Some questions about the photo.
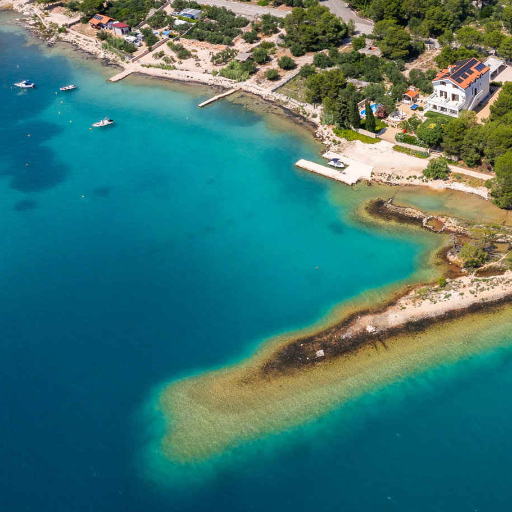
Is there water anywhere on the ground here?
Yes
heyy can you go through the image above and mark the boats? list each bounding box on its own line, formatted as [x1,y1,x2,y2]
[91,115,114,126]
[59,83,77,91]
[13,78,36,87]
[327,156,344,166]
